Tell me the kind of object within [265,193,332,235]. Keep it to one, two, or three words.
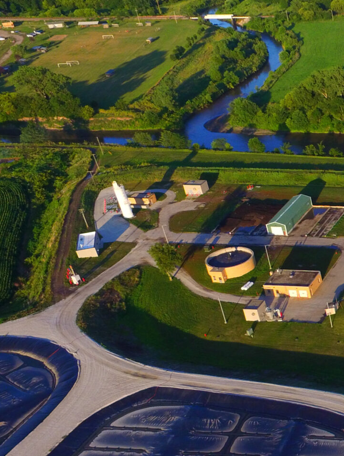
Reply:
barn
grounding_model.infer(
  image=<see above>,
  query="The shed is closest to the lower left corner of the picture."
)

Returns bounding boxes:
[76,230,112,258]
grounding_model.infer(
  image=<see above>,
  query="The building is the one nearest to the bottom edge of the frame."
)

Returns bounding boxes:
[242,300,268,321]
